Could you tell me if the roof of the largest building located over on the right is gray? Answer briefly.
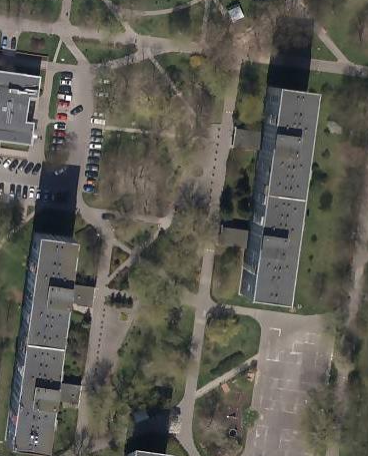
Yes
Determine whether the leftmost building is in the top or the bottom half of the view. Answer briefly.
top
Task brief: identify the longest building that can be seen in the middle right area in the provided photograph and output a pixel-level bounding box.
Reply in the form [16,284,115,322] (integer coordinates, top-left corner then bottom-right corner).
[220,87,321,307]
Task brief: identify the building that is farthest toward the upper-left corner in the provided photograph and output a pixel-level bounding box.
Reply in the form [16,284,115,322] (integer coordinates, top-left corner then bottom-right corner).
[0,71,41,150]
